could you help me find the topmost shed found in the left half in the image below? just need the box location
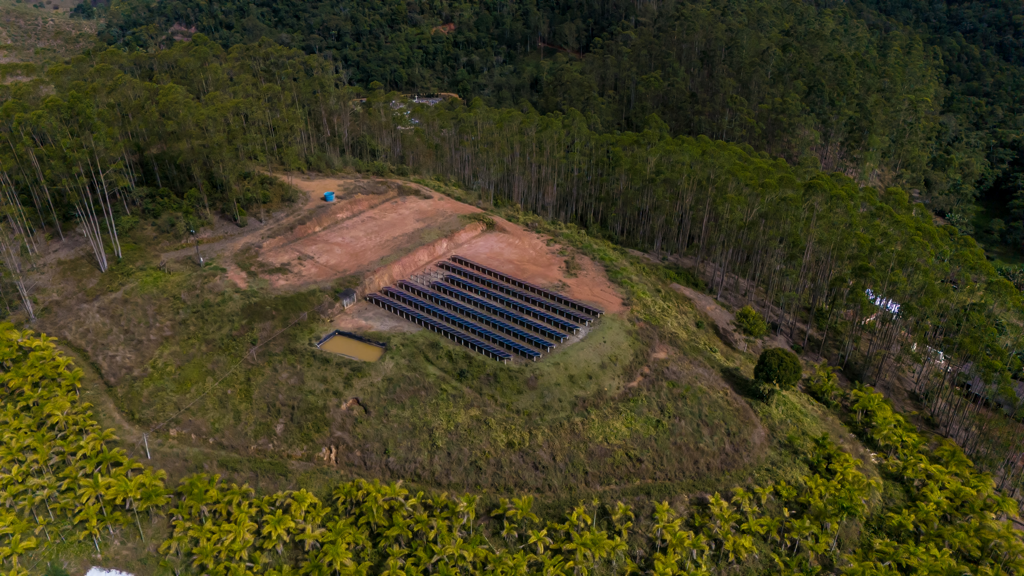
[332,288,357,309]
